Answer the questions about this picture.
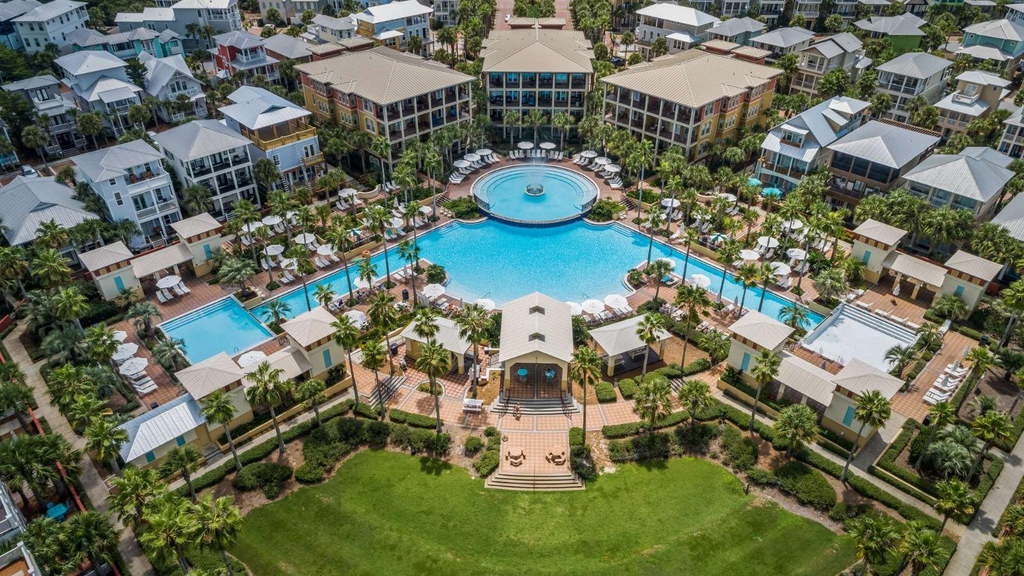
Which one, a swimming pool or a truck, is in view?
swimming pool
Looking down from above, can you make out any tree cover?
Yes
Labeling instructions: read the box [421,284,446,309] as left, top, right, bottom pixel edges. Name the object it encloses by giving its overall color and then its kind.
white umbrella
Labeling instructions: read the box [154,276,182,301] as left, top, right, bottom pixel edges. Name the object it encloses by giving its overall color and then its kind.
white umbrella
